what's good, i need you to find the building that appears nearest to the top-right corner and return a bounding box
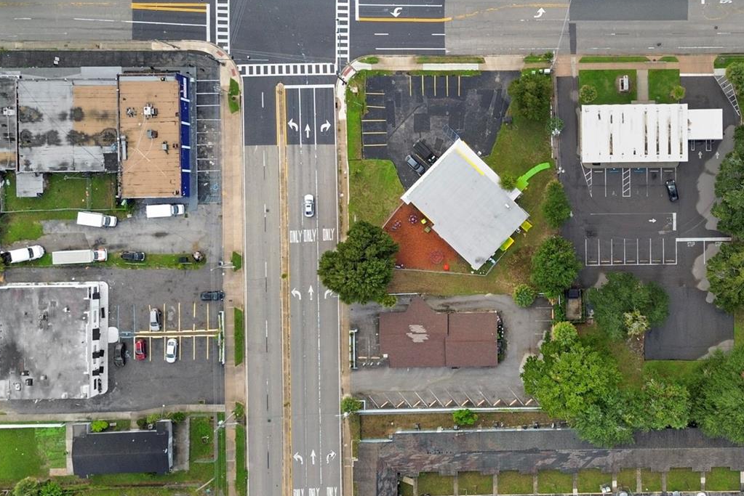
[582,104,722,166]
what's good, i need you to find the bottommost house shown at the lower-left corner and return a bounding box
[68,417,178,476]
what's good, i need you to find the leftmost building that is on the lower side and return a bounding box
[0,280,119,401]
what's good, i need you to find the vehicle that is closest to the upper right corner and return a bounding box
[666,178,678,202]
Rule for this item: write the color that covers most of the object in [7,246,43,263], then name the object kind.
white vehicle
